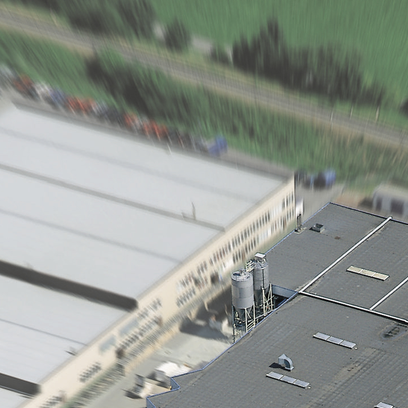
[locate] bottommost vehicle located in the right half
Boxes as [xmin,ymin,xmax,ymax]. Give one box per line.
[304,171,334,192]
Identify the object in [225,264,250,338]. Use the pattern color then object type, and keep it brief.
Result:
gray silo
